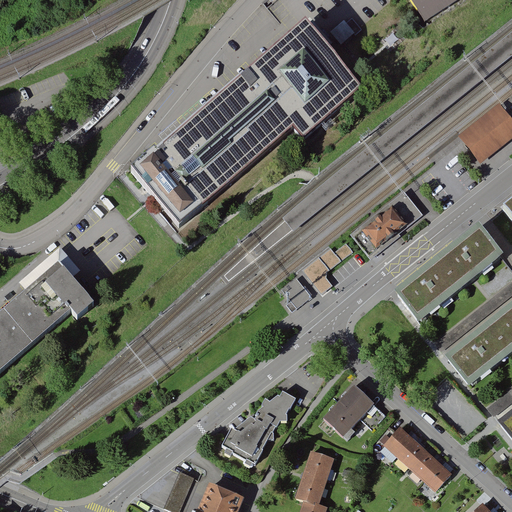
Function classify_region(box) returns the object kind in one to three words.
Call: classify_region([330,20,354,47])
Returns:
building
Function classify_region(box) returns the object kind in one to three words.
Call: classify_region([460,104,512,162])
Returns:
shed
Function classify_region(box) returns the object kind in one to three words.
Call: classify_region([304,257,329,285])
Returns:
shed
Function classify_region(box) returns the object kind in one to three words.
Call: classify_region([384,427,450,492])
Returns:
house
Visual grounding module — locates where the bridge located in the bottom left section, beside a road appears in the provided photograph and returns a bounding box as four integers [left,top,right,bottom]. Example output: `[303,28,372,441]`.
[0,450,58,486]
